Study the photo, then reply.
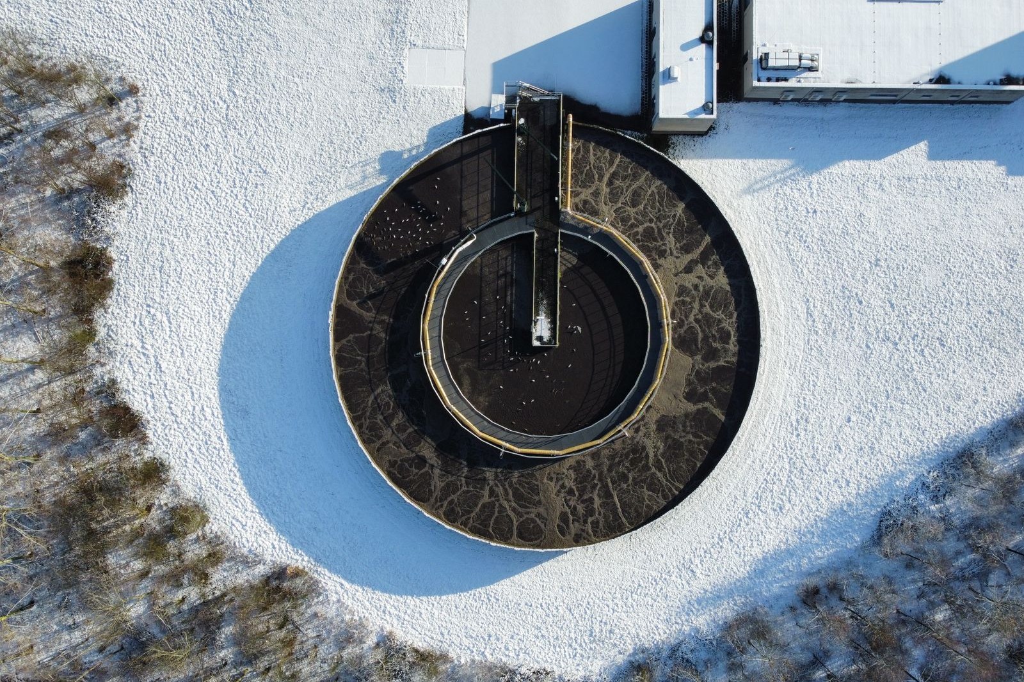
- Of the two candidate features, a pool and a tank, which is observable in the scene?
tank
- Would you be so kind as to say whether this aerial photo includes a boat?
No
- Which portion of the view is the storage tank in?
center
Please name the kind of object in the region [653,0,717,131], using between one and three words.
building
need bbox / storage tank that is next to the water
[330,121,761,551]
